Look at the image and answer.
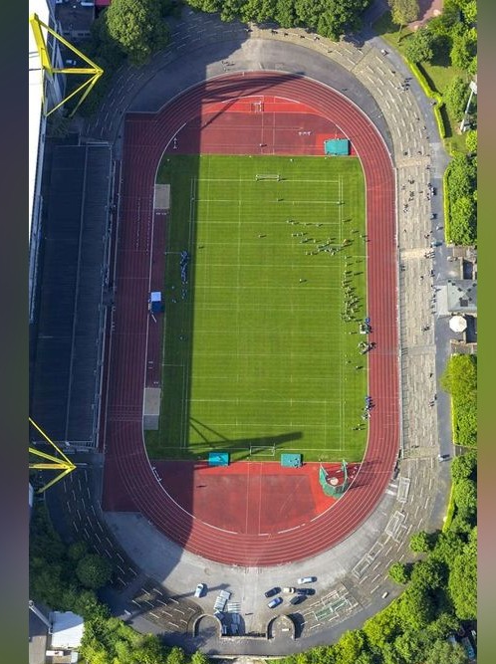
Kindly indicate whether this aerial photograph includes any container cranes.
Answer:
No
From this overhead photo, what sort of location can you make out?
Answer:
sports ground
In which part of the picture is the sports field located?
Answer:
center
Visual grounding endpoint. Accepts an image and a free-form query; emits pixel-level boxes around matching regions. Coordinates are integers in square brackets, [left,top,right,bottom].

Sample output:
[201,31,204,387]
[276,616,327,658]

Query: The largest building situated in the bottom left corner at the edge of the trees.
[50,610,83,651]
